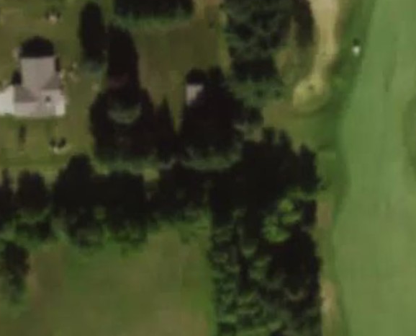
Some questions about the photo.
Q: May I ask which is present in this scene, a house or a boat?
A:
house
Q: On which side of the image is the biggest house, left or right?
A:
left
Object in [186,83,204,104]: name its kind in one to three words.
shed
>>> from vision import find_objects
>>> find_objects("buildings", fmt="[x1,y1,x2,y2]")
[12,58,64,114]
[186,83,204,104]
